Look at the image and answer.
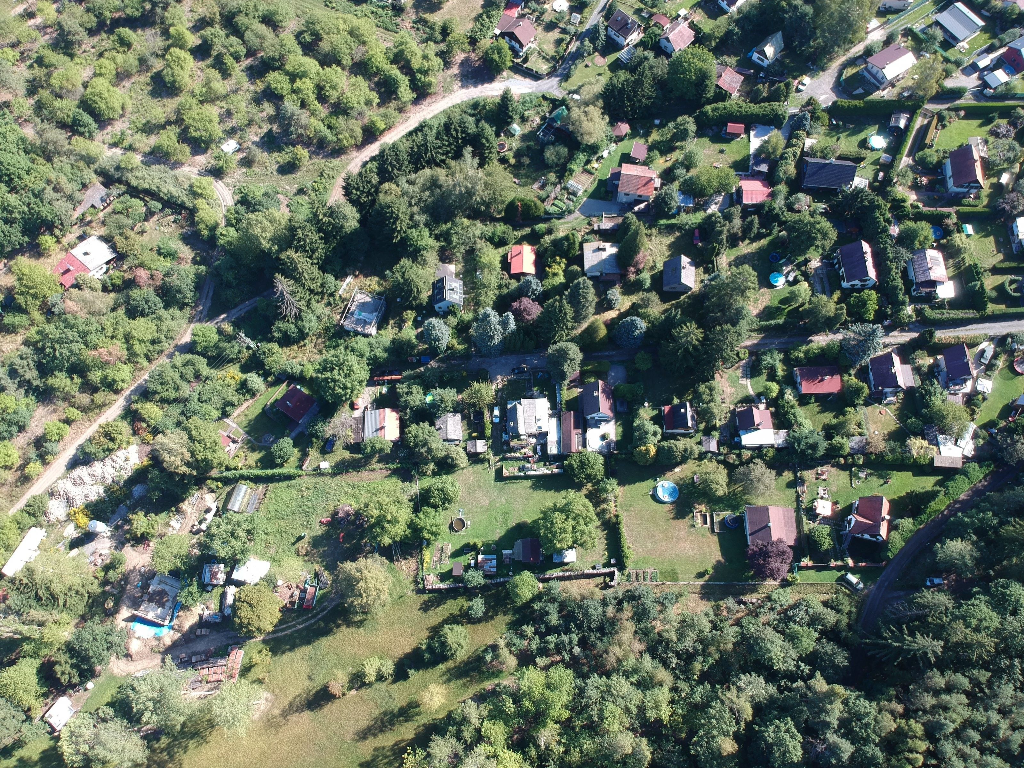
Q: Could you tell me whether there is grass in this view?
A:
Yes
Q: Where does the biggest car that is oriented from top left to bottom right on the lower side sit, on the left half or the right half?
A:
right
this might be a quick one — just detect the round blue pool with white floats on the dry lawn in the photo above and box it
[656,481,678,504]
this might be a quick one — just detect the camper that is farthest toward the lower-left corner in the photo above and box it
[46,697,80,729]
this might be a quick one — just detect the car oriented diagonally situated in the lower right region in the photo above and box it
[841,570,866,592]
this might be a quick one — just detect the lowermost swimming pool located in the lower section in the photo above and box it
[447,514,469,537]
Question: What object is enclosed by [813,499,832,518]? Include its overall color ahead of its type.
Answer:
white gazebo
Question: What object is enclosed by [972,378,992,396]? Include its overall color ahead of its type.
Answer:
white gazebo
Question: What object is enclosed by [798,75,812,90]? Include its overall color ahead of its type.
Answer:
white car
